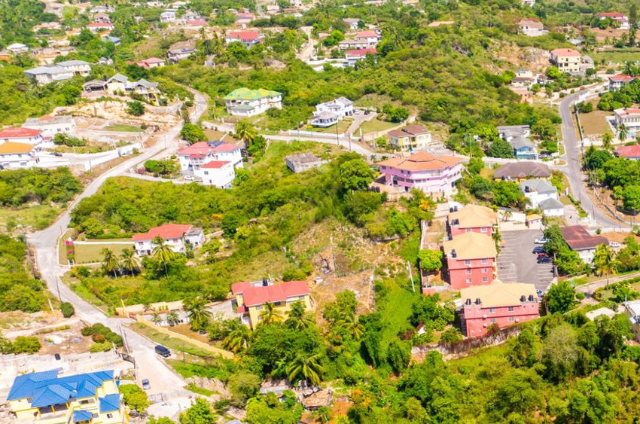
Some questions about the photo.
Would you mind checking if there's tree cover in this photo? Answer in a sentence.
Yes, tree cover can be seen from above here.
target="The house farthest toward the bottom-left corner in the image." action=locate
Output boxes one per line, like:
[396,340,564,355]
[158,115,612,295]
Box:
[7,367,132,424]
